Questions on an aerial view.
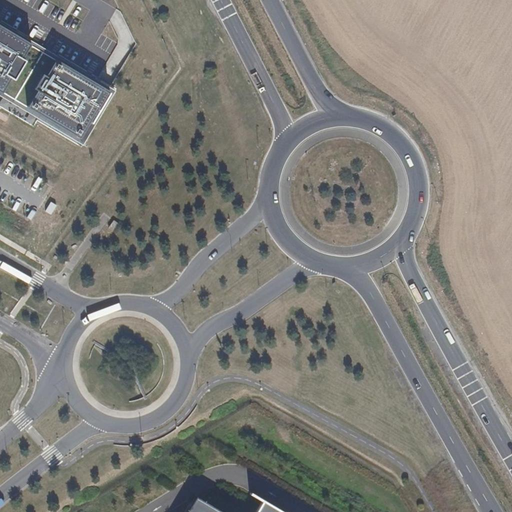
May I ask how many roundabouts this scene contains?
2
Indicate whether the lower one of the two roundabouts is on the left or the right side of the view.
left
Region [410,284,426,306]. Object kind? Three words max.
vehicle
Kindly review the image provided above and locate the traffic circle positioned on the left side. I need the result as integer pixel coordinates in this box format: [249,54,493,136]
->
[54,294,198,436]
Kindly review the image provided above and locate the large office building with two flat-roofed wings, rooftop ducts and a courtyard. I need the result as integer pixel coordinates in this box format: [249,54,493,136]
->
[0,26,118,149]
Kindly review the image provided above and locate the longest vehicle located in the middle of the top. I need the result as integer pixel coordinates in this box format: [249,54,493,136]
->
[248,69,266,93]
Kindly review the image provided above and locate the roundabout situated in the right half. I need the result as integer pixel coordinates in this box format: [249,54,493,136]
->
[258,106,430,278]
